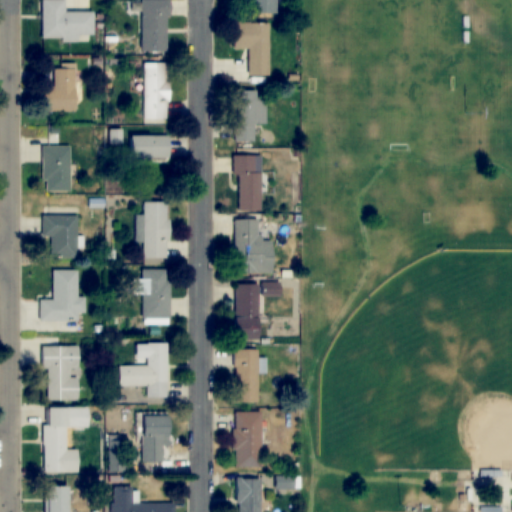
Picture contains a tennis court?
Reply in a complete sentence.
No, there appears to be no tennis court in this shot.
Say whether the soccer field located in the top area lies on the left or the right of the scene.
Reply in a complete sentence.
The soccer field located in the top area is on the right side of the image.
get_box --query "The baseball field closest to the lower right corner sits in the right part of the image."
[319,250,512,470]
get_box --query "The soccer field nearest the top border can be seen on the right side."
[308,0,512,240]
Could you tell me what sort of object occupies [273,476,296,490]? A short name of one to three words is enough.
shed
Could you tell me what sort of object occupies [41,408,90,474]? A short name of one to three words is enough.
house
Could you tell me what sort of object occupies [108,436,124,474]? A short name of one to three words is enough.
shed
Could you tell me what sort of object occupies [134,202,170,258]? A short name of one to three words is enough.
house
